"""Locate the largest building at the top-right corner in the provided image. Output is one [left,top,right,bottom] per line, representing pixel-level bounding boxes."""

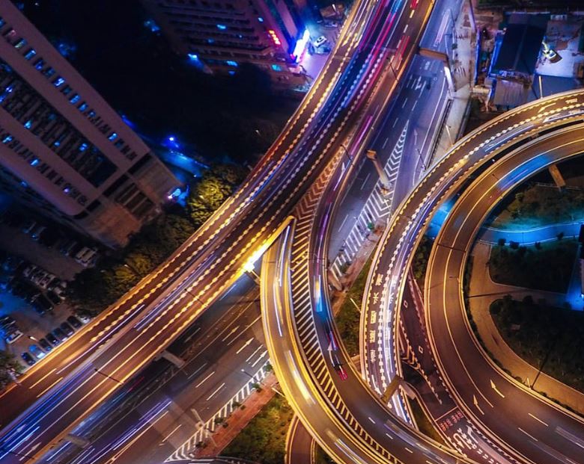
[495,14,549,93]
